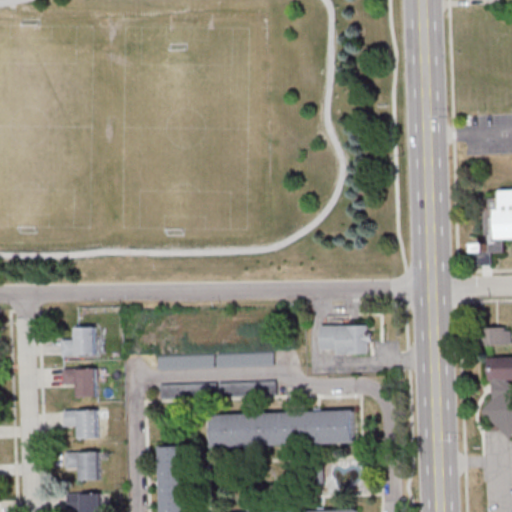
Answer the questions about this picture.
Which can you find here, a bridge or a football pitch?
football pitch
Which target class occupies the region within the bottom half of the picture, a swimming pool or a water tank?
swimming pool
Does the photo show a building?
Yes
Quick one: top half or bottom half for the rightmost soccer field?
top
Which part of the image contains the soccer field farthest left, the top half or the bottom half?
top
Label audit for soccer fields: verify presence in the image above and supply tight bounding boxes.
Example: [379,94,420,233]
[0,24,94,230]
[123,26,250,230]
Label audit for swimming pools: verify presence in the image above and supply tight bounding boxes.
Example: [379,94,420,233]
[333,466,362,492]
[103,388,114,398]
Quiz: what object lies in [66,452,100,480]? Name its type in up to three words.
house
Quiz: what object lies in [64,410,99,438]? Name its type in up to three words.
house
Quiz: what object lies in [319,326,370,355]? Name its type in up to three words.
building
